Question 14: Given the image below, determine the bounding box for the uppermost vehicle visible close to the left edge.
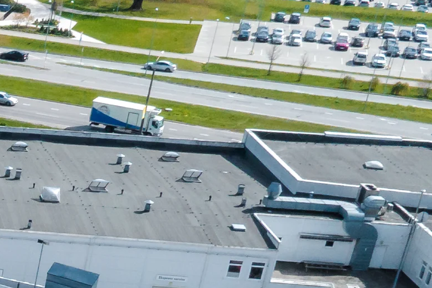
[0,49,31,63]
